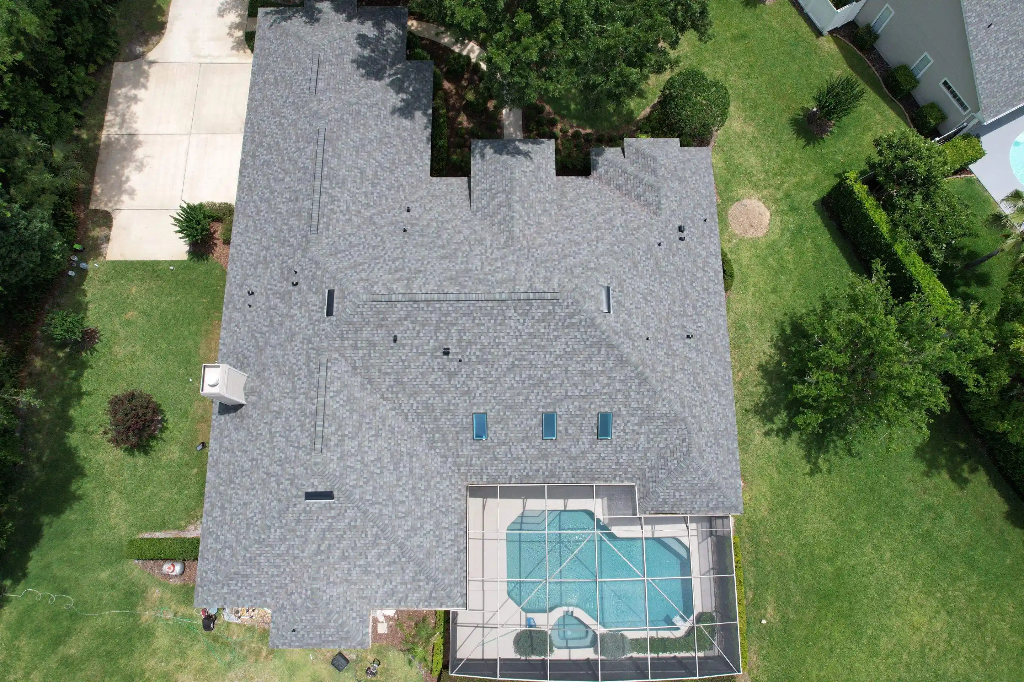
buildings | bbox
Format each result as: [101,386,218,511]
[192,0,743,652]
[839,0,1024,134]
